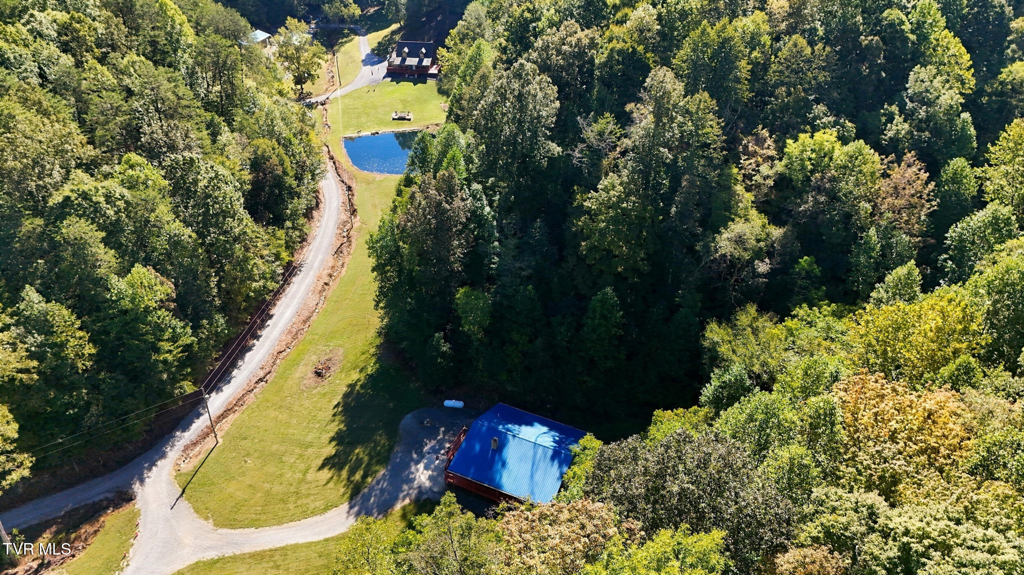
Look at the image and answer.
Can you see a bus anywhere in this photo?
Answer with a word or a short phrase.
No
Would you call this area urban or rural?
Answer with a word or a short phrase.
rural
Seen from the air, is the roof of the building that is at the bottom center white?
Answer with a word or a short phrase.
No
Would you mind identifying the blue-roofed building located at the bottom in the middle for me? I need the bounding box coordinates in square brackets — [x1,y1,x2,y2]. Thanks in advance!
[434,403,589,531]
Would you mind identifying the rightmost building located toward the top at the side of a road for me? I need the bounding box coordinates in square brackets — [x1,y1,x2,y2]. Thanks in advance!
[387,40,441,79]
